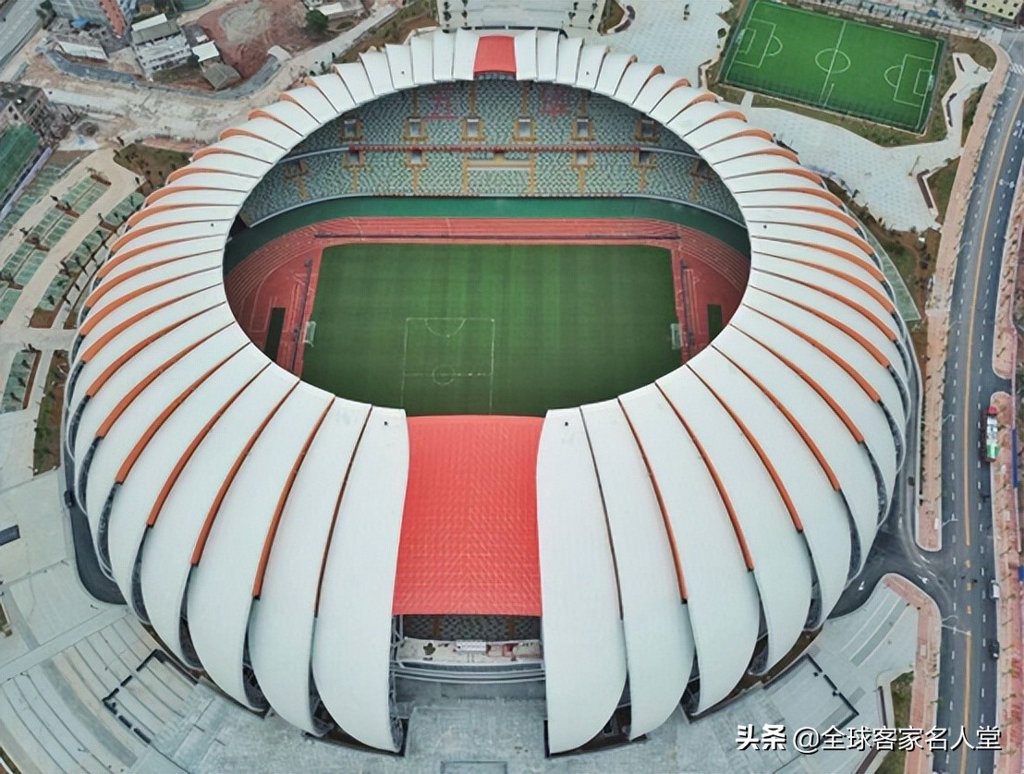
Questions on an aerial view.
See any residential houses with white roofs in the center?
No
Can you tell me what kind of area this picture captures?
sports ground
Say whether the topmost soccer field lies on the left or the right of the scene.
right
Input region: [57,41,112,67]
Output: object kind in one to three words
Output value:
shed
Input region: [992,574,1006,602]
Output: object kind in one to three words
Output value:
vehicle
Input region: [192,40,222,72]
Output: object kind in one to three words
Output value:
house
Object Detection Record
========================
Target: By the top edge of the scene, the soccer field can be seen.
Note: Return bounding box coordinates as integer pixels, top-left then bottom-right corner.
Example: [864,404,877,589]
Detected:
[713,0,947,132]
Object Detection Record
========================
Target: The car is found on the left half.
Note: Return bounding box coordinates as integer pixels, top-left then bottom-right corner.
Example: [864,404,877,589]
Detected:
[61,487,73,509]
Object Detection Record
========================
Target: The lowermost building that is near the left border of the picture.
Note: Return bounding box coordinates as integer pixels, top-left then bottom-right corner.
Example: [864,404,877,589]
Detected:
[0,81,52,143]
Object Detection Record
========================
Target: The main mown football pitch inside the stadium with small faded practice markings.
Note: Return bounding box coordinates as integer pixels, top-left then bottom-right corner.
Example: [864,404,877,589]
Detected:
[298,242,696,450]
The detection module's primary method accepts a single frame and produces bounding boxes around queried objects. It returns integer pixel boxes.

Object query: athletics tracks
[152,202,838,477]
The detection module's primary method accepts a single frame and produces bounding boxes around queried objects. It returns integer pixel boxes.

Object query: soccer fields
[298,242,696,450]
[713,0,947,132]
